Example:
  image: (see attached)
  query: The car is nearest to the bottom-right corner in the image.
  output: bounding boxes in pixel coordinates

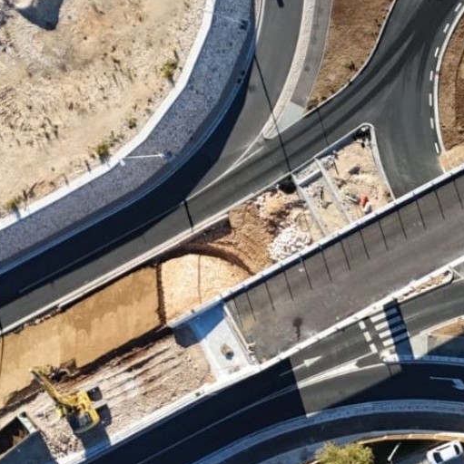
[425,440,463,464]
